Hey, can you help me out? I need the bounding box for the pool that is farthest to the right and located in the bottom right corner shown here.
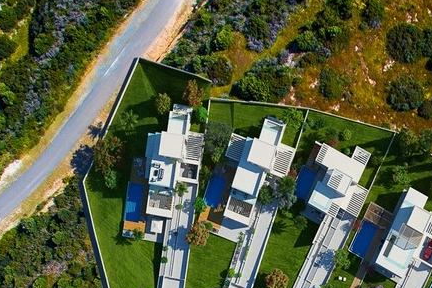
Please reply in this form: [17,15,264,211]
[349,218,379,259]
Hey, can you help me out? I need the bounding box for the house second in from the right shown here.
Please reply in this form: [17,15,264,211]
[308,141,371,218]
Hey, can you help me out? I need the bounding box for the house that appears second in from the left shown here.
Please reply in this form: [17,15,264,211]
[223,119,296,230]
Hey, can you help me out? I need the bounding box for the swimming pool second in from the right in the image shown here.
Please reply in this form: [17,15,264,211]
[293,165,318,201]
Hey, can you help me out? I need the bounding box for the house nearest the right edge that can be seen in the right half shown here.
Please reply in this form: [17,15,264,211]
[373,187,432,280]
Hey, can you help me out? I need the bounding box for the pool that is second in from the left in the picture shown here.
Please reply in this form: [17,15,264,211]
[203,175,226,209]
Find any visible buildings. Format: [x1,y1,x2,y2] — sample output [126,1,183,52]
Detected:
[308,141,371,218]
[223,119,296,230]
[145,104,206,234]
[373,187,432,280]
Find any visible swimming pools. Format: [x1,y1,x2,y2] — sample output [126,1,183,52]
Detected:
[123,181,144,223]
[349,218,379,259]
[203,175,226,209]
[293,165,318,201]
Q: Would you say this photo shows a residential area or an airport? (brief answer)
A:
residential area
